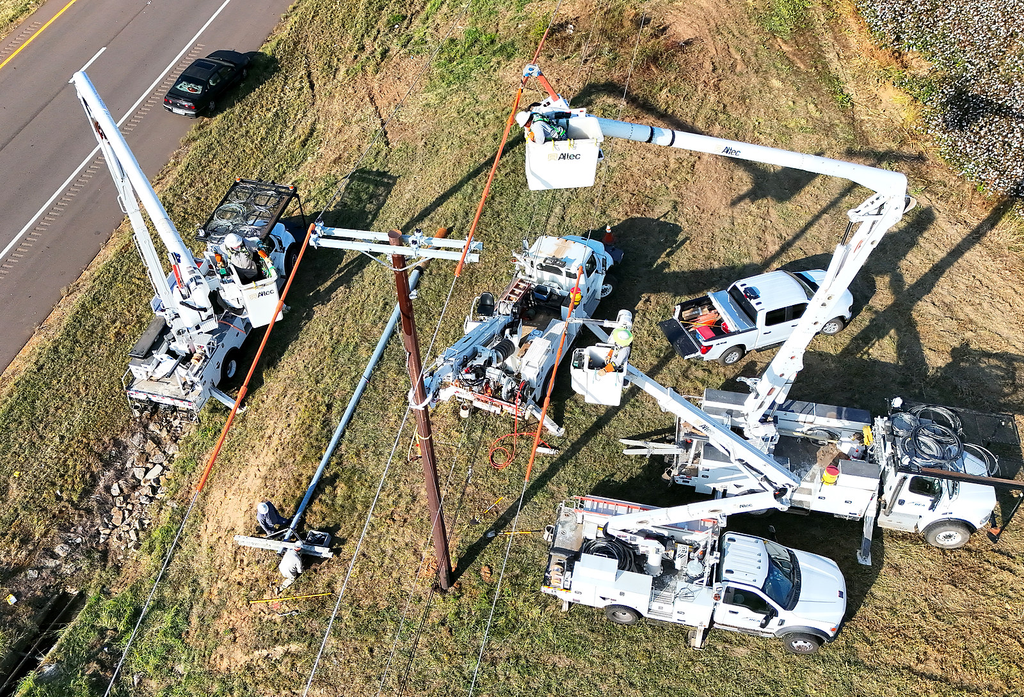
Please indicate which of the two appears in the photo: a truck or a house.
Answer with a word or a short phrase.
truck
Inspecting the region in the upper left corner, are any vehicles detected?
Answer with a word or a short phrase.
Yes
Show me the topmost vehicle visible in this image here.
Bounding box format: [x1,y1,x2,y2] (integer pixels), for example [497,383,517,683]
[165,46,256,117]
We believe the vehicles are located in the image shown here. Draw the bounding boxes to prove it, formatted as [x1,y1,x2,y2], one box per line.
[404,235,613,441]
[165,46,256,117]
[537,304,853,653]
[653,263,864,367]
[523,64,1024,568]
[69,65,309,435]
